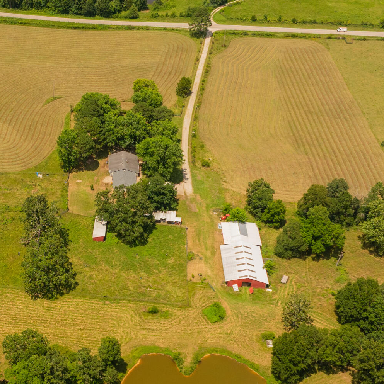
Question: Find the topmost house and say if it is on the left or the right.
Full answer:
You can find the topmost house on the left side of the picture.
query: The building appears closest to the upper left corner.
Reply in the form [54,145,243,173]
[103,151,144,195]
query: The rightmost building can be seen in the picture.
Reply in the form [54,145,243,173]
[220,219,268,288]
